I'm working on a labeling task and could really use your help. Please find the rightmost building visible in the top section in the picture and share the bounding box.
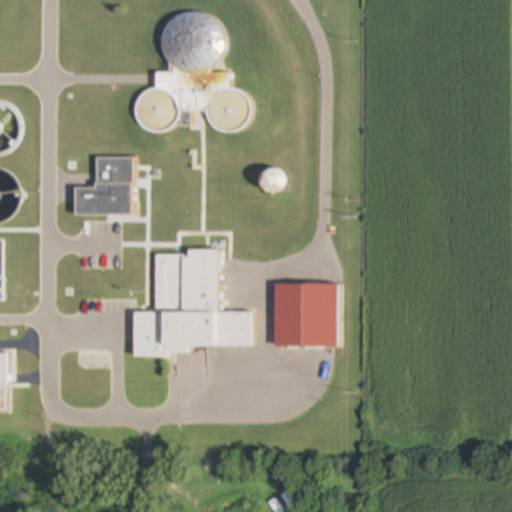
[155,60,236,126]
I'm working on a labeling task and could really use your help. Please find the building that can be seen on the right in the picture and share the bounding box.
[274,283,343,346]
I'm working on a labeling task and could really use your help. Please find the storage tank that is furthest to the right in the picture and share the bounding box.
[259,166,288,195]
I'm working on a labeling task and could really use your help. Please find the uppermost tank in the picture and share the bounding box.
[162,10,229,72]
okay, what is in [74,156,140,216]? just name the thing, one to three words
building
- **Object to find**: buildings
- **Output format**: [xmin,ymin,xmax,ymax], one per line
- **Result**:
[74,156,140,216]
[155,60,236,126]
[0,241,8,302]
[133,248,258,358]
[0,352,16,412]
[274,283,343,346]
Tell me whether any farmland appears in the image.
Yes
